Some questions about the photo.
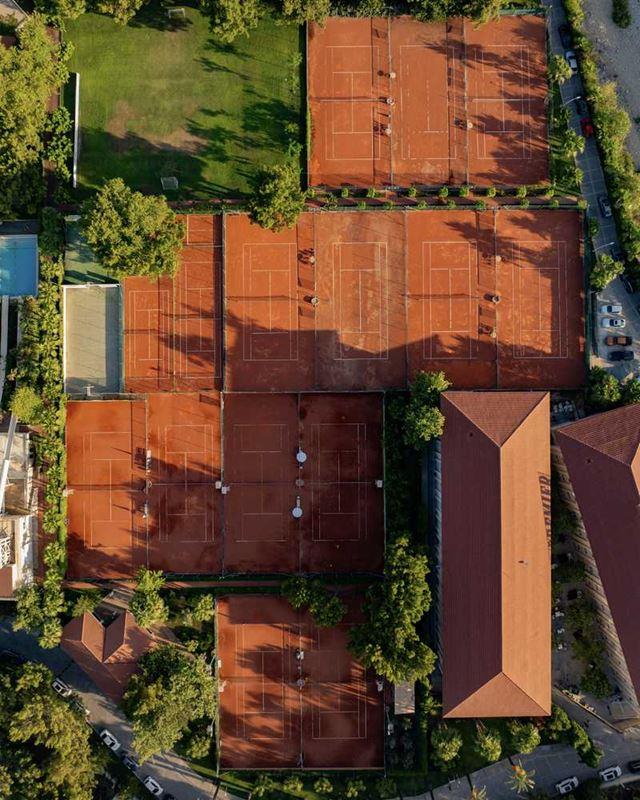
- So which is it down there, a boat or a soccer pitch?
soccer pitch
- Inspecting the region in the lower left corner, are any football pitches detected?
No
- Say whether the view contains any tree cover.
Yes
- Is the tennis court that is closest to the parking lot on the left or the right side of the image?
right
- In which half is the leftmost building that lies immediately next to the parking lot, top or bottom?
bottom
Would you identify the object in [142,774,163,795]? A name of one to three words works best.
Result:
car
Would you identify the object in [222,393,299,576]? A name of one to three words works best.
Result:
tennis court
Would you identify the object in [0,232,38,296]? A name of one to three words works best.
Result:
swimming pool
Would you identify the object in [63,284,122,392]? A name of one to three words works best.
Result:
sports court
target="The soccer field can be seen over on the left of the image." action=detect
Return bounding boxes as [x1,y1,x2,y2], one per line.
[76,9,301,192]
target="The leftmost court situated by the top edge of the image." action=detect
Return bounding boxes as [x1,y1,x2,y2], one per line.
[309,16,391,186]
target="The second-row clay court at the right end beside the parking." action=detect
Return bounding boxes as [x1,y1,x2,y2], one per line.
[497,210,586,390]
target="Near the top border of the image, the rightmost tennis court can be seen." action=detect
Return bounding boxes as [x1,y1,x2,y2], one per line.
[467,16,548,186]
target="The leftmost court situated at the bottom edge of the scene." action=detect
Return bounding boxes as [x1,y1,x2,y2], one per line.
[218,596,301,770]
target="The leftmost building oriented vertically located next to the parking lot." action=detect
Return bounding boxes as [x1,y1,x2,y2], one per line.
[429,391,551,718]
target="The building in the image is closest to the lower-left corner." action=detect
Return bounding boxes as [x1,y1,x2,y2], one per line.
[59,602,159,705]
